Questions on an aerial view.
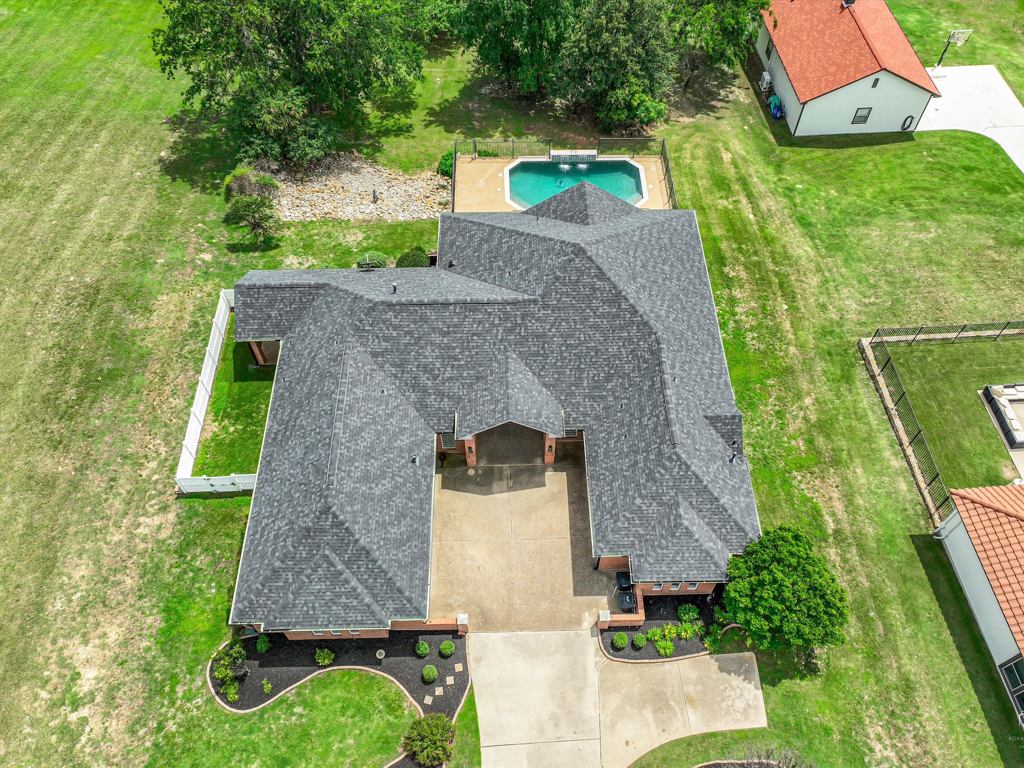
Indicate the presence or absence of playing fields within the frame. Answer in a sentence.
No, the frame has no playing field in it.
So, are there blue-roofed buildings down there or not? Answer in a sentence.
No, no blue-roofed building is visible in the scene.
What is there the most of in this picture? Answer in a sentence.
The bulk of the photo consists of grass.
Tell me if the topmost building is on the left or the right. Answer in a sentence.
The topmost building sits on the right side.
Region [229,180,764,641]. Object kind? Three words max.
house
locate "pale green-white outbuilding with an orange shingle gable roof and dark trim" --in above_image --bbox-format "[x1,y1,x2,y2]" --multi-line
[757,0,939,137]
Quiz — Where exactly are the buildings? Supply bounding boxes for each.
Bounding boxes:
[229,180,764,641]
[757,0,939,137]
[935,480,1024,729]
